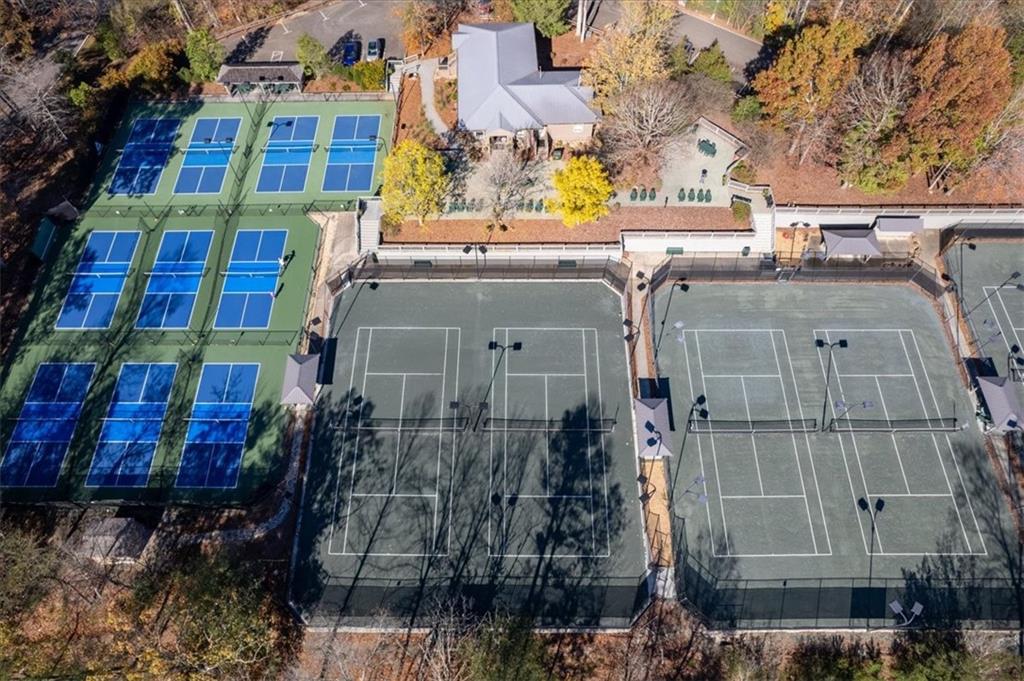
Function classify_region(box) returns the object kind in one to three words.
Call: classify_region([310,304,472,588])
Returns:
tennis court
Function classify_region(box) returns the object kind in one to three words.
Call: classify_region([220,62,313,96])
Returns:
building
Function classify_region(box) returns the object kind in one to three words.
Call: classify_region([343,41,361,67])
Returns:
car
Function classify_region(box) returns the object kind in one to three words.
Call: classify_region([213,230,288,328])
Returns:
sports court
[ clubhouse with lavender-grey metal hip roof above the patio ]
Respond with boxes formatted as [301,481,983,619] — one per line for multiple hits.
[449,25,599,152]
